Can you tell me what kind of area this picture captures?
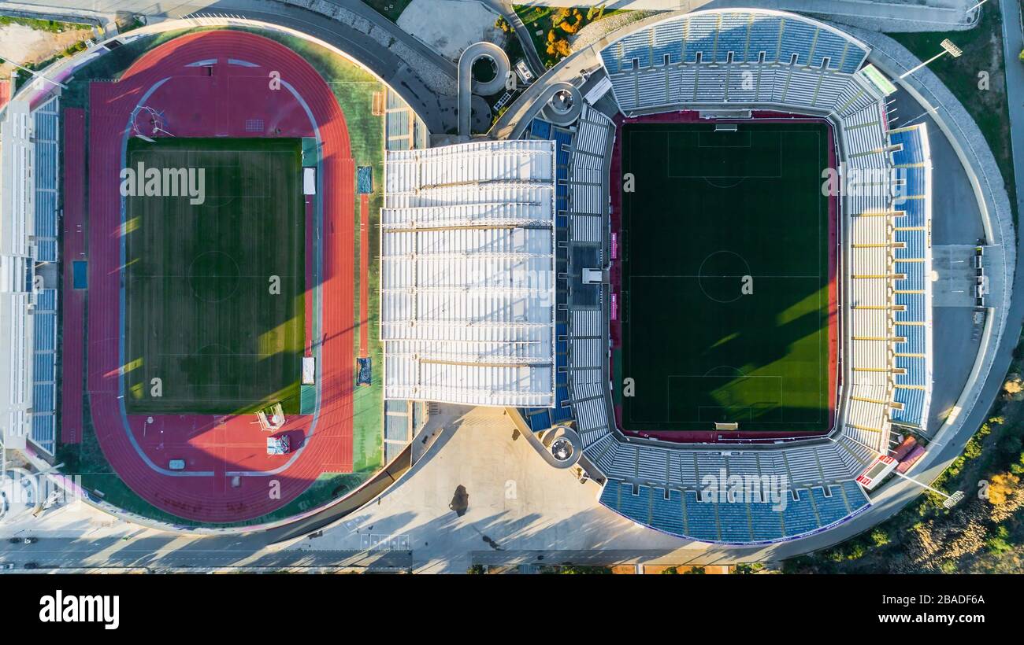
sports ground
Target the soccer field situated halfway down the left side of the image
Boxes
[126,137,302,414]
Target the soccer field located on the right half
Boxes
[621,122,829,431]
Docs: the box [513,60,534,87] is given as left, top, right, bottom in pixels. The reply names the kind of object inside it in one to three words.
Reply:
building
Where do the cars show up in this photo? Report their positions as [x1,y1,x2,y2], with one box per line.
[25,563,38,569]
[8,538,21,544]
[0,563,13,569]
[29,538,42,544]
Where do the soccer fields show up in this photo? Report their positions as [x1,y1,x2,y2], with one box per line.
[621,122,829,431]
[126,137,302,414]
